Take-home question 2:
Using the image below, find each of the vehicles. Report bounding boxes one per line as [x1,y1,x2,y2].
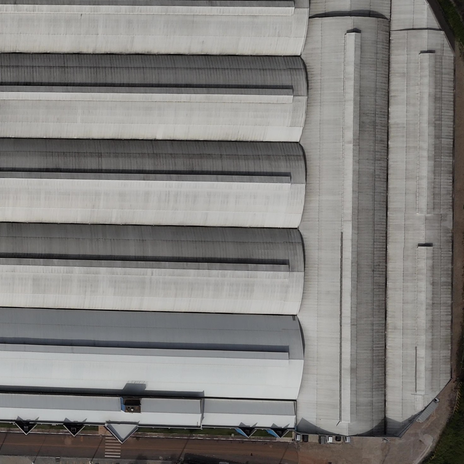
[325,434,332,446]
[343,436,350,445]
[333,436,342,443]
[294,432,301,444]
[318,434,326,446]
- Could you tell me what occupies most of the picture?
buildings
